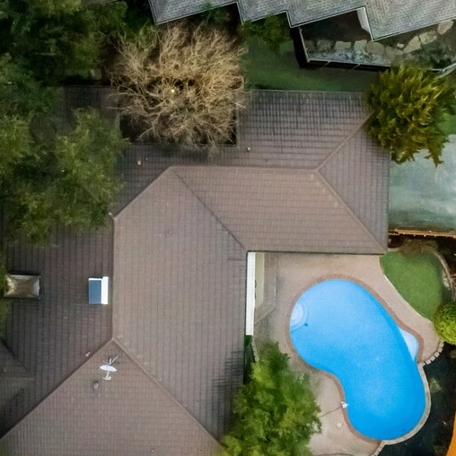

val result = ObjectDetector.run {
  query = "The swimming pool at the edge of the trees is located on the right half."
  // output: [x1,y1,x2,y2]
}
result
[285,275,431,445]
